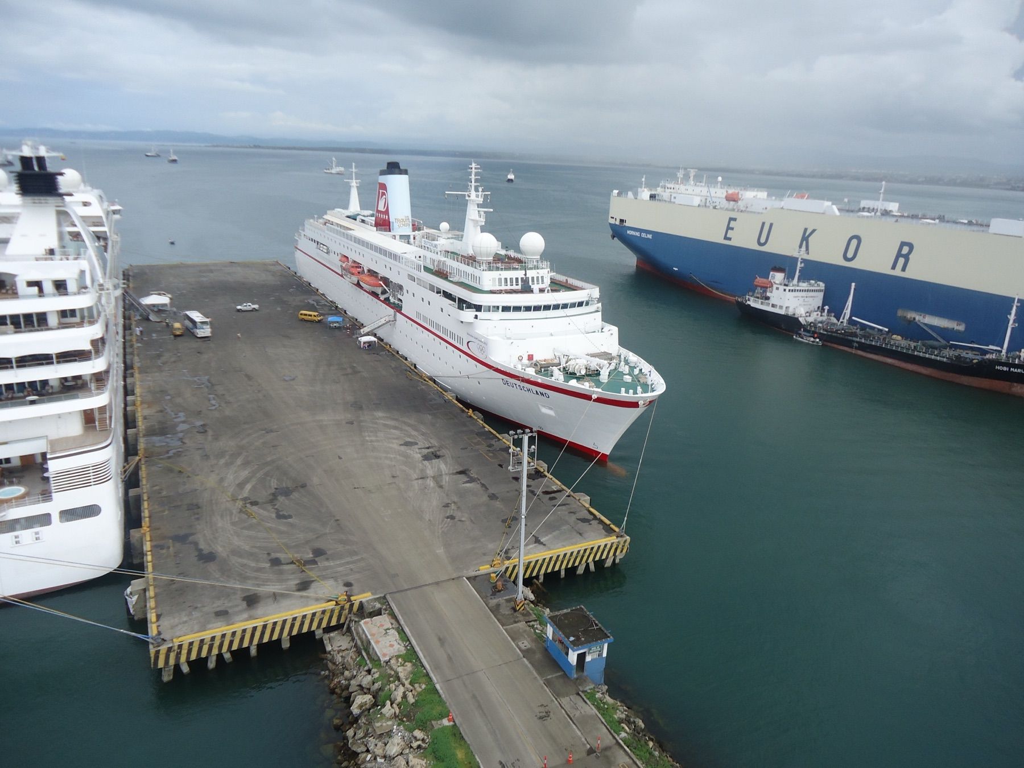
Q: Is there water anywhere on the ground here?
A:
Yes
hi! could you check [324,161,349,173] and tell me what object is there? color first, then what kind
white vessel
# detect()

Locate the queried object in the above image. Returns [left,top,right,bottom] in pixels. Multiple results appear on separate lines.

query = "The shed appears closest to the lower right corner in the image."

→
[544,604,614,693]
